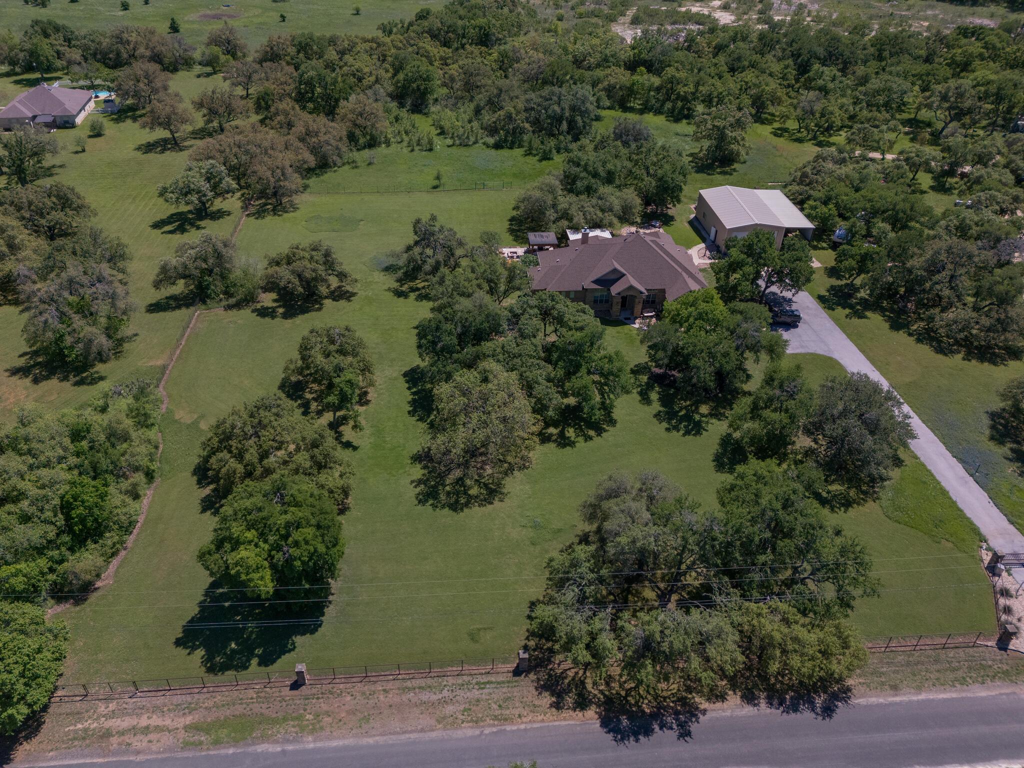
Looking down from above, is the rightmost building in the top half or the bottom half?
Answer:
top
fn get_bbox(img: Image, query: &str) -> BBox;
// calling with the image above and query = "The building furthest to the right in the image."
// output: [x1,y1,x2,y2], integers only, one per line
[697,186,816,253]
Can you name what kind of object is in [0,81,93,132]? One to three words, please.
house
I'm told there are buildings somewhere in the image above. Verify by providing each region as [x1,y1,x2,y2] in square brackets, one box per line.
[0,81,93,132]
[102,97,122,111]
[527,225,707,323]
[697,186,816,253]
